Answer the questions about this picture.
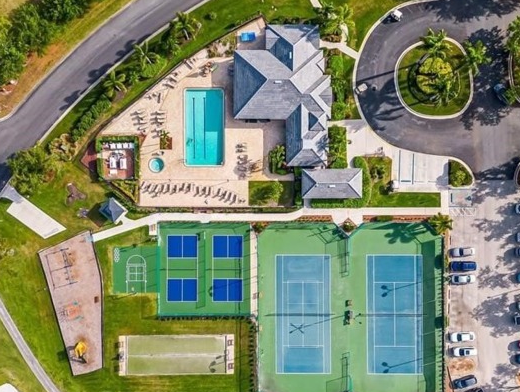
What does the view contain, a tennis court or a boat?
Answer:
tennis court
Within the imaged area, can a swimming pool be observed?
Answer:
Yes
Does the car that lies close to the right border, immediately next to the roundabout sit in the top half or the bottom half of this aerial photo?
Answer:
top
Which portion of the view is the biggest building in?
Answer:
top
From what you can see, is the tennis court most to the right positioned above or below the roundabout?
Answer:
below it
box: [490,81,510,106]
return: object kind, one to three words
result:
car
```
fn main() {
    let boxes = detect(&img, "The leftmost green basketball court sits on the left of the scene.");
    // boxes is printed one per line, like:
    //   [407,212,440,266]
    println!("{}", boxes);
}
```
[113,246,157,292]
